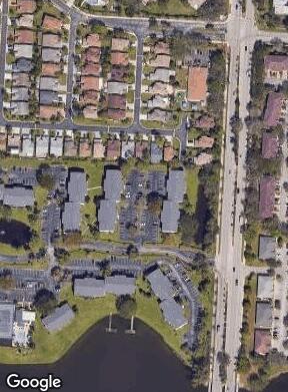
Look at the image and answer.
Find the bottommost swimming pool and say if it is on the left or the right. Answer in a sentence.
The bottommost swimming pool is on the left side of the image.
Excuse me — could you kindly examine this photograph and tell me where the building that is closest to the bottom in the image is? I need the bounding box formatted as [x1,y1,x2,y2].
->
[255,328,269,356]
